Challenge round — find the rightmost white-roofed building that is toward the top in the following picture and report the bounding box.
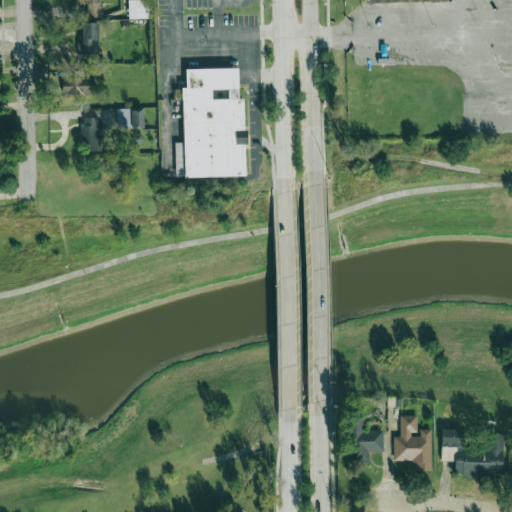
[182,68,248,178]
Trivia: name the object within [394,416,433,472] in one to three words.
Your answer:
house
